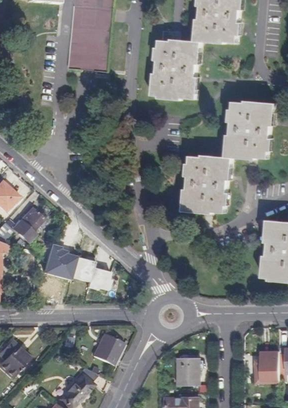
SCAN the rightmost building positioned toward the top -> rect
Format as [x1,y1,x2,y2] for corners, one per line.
[221,99,277,163]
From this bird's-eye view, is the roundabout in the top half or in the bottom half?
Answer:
bottom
